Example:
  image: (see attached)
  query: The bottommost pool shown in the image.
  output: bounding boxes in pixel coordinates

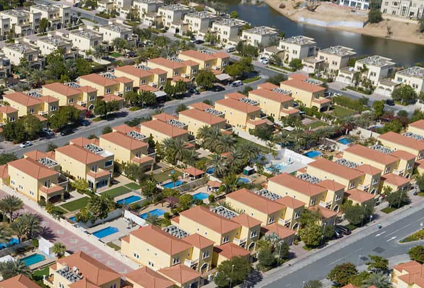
[14,251,51,268]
